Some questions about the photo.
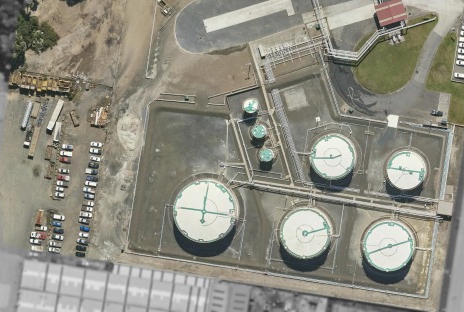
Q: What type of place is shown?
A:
industrial area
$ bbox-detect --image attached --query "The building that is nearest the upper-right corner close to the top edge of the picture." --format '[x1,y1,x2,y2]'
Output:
[374,0,406,27]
